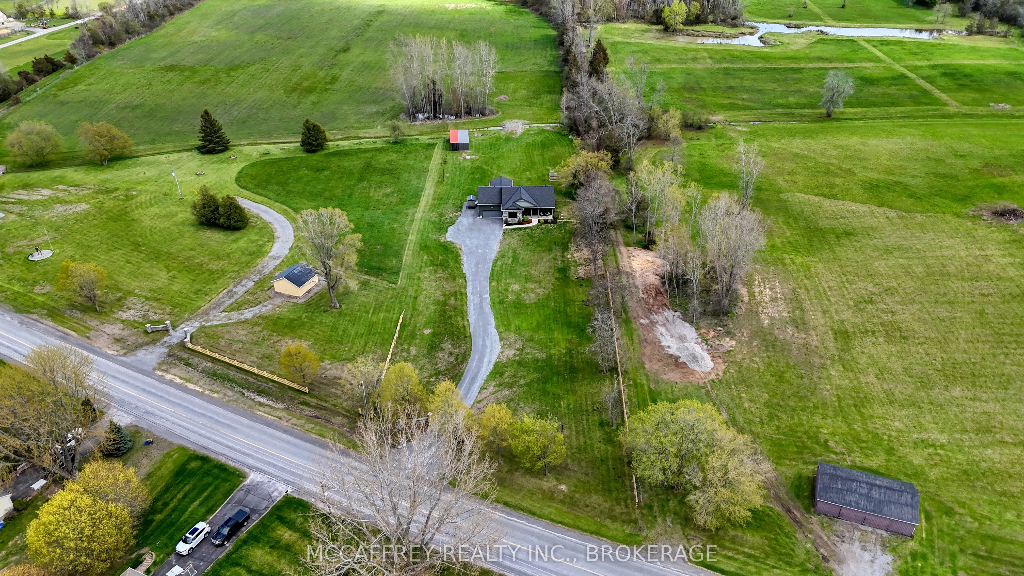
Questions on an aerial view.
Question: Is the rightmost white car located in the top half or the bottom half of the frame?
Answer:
bottom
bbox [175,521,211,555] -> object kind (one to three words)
car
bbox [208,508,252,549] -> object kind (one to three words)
truck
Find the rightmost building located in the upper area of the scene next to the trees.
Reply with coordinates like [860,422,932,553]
[477,175,556,221]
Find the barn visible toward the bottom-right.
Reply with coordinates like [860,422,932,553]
[815,455,920,537]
